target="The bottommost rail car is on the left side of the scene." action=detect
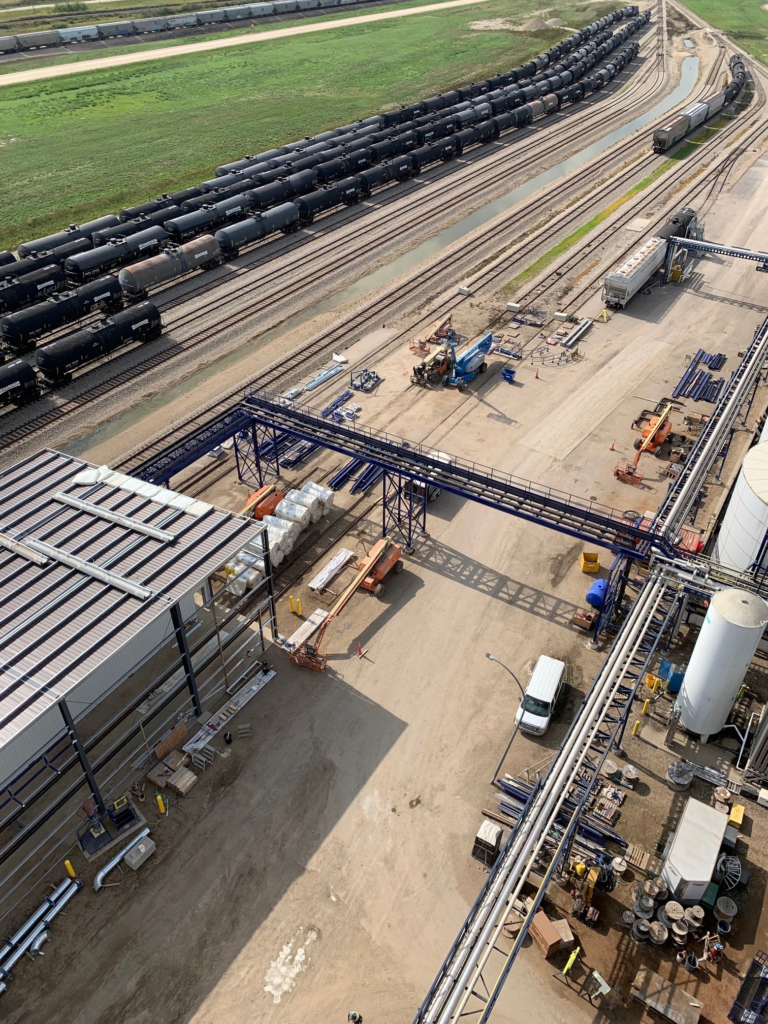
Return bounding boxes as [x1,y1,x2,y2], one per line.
[0,357,47,408]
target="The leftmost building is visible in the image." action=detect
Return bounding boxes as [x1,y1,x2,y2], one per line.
[0,442,280,917]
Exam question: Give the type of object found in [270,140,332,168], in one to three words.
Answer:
rail car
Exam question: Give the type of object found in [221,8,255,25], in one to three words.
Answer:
rail car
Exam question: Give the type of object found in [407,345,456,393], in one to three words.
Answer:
work vehicle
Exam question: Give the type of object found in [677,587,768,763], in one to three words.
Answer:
silo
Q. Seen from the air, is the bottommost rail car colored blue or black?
black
